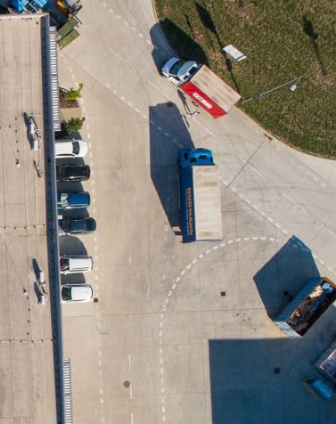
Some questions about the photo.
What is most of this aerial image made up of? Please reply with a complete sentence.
For the most part, this view shows paved ground.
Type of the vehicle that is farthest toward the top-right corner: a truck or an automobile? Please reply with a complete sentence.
The vehicle that is farthest toward the top-right corner is a truck.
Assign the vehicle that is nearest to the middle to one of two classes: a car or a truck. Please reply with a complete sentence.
What you see as the vehicle that is nearest to the middle is a truck.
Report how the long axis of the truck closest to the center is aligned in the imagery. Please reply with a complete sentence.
In this picture, the truck closest to the center is oriented up and down.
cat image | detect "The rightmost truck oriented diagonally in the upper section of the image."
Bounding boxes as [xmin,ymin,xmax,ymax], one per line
[154,52,241,119]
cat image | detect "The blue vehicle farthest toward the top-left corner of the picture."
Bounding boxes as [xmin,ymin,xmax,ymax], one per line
[55,189,93,209]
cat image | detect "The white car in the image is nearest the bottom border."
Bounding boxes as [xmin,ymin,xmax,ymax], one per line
[60,282,99,303]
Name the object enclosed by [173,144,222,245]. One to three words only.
truck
